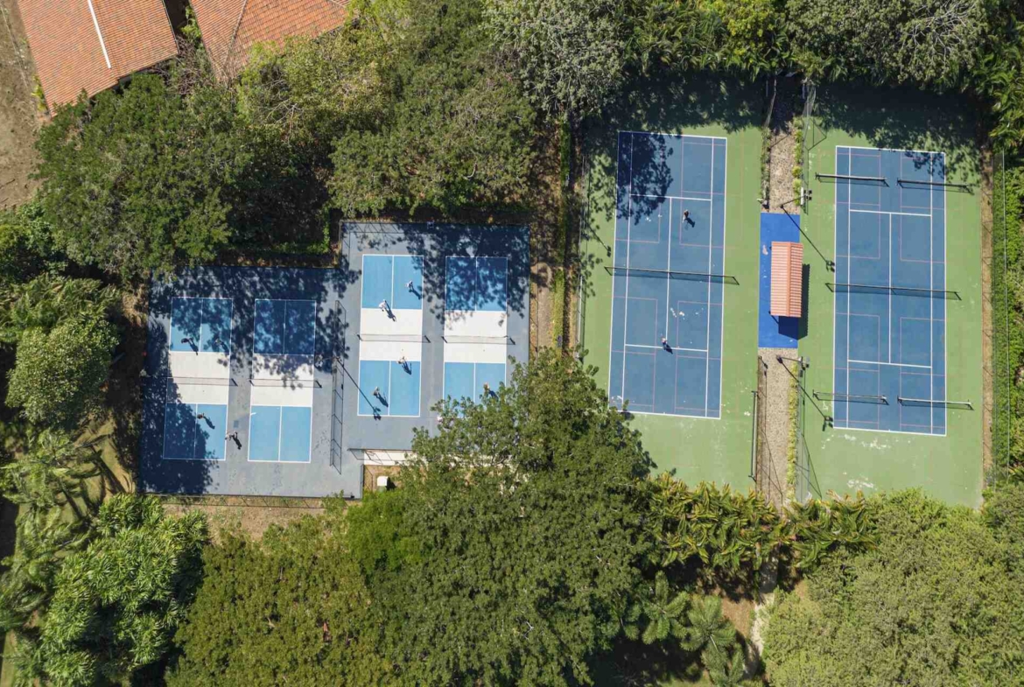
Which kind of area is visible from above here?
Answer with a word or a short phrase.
sports ground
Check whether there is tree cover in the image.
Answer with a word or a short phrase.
Yes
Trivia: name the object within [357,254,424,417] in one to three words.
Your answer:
sports court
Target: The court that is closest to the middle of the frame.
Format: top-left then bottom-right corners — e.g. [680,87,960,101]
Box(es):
[442,256,508,419]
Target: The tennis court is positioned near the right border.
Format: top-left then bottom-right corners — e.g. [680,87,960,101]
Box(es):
[793,72,984,516]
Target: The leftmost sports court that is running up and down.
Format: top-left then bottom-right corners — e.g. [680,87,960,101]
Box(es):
[163,297,233,461]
